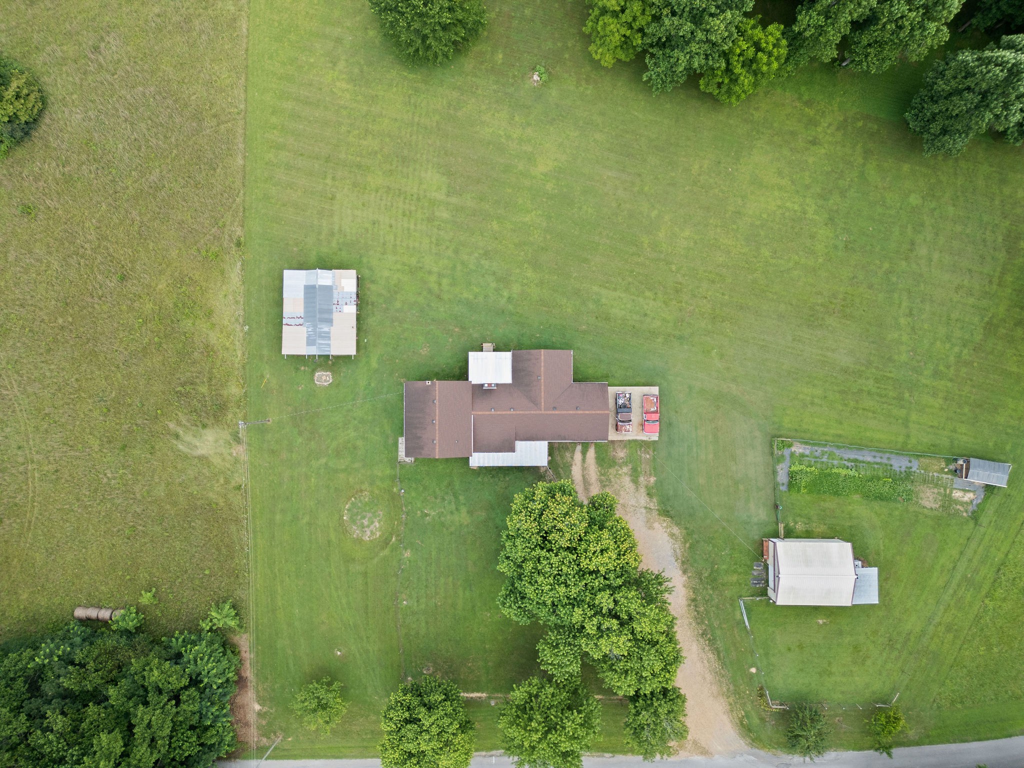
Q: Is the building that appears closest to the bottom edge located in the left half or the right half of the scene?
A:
right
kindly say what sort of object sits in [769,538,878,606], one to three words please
building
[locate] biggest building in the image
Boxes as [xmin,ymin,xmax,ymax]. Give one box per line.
[403,349,611,466]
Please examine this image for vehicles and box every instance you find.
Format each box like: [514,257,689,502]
[642,395,660,437]
[616,392,634,434]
